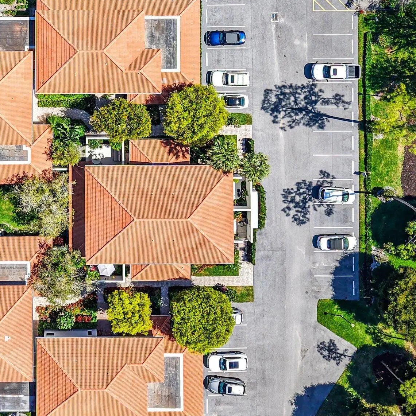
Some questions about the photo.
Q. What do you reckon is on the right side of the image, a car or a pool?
car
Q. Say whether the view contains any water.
No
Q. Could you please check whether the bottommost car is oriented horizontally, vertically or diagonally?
horizontally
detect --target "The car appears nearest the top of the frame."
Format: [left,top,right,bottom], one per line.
[204,28,245,47]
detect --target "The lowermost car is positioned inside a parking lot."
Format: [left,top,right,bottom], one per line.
[205,375,247,397]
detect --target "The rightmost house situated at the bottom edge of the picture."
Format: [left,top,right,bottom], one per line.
[35,314,205,416]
